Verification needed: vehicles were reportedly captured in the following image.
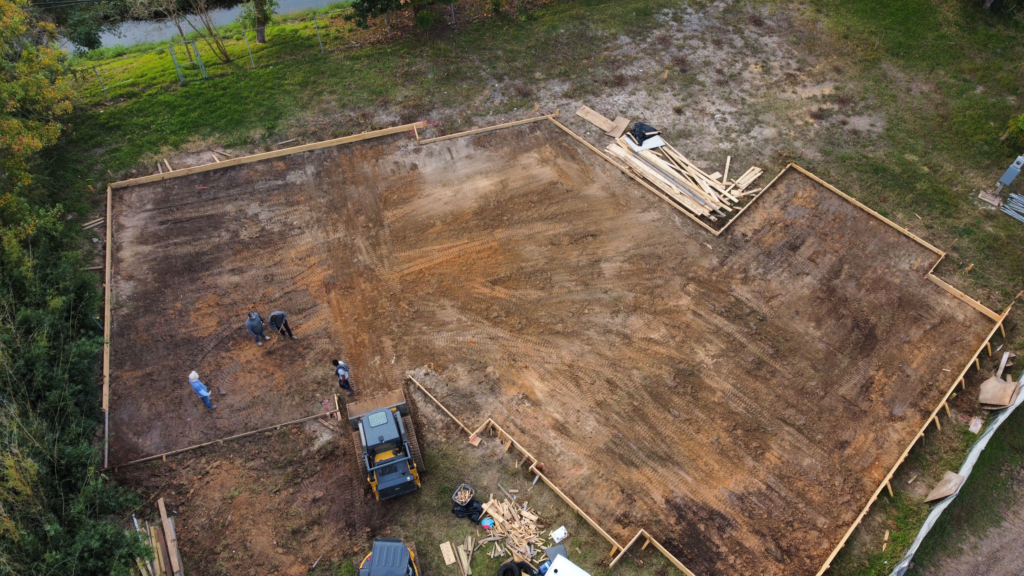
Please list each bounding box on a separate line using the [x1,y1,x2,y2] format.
[346,387,425,505]
[354,539,424,576]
